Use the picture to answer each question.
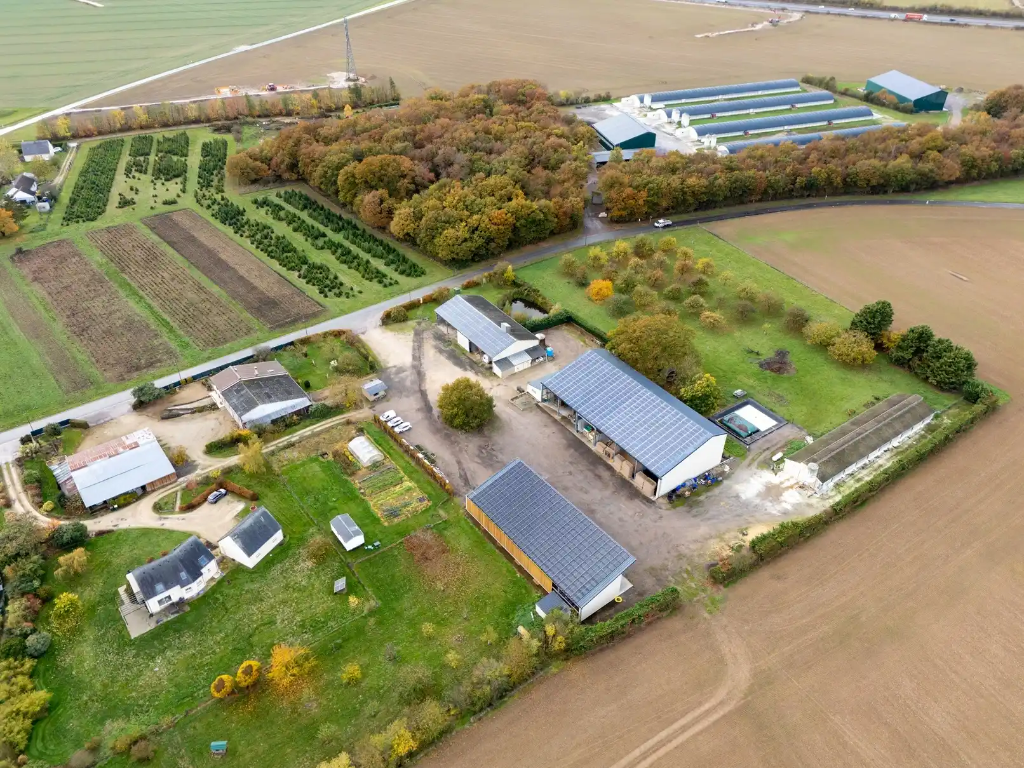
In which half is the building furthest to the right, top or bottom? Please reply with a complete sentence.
The building furthest to the right is in the top half of the image.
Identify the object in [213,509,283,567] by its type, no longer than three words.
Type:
house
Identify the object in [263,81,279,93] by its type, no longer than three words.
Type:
vehicle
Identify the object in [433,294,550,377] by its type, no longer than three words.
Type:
barn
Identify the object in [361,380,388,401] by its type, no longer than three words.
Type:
shed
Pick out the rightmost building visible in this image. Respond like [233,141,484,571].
[866,70,955,113]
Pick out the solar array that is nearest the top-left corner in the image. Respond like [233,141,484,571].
[436,296,514,356]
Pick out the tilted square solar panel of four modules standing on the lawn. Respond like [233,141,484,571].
[331,575,347,593]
